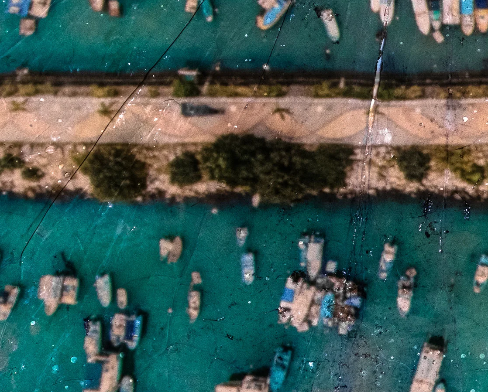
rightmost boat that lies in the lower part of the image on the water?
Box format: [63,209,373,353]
[471,252,488,295]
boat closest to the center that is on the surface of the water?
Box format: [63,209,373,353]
[235,227,249,248]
